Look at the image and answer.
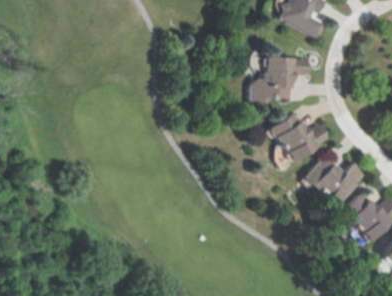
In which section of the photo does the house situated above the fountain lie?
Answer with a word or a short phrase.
top right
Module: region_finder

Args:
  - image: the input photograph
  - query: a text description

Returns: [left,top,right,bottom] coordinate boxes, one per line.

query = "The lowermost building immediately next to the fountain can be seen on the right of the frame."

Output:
[244,52,310,105]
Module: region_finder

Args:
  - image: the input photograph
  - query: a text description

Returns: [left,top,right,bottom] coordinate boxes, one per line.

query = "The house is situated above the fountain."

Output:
[274,0,324,38]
